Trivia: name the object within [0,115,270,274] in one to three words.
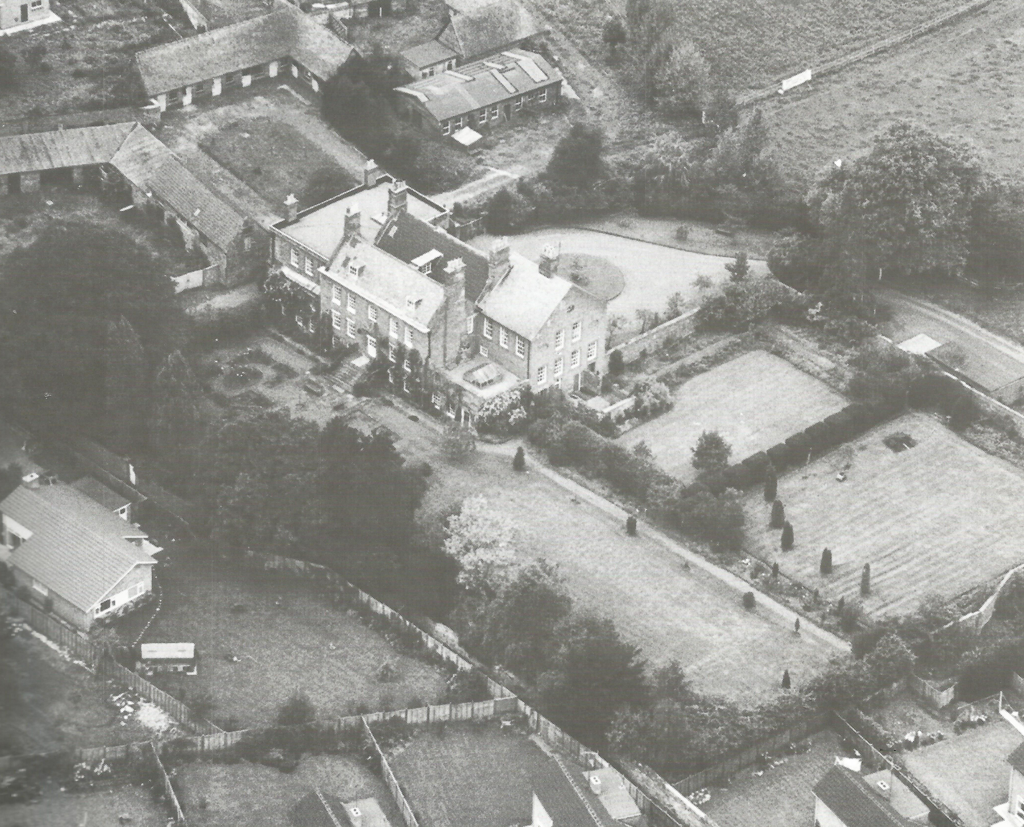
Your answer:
shed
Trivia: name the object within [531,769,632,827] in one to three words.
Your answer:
house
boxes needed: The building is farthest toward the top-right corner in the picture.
[898,332,941,369]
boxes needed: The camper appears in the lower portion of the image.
[143,642,206,673]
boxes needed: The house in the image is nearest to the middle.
[268,174,614,439]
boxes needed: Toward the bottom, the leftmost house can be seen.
[0,475,164,630]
